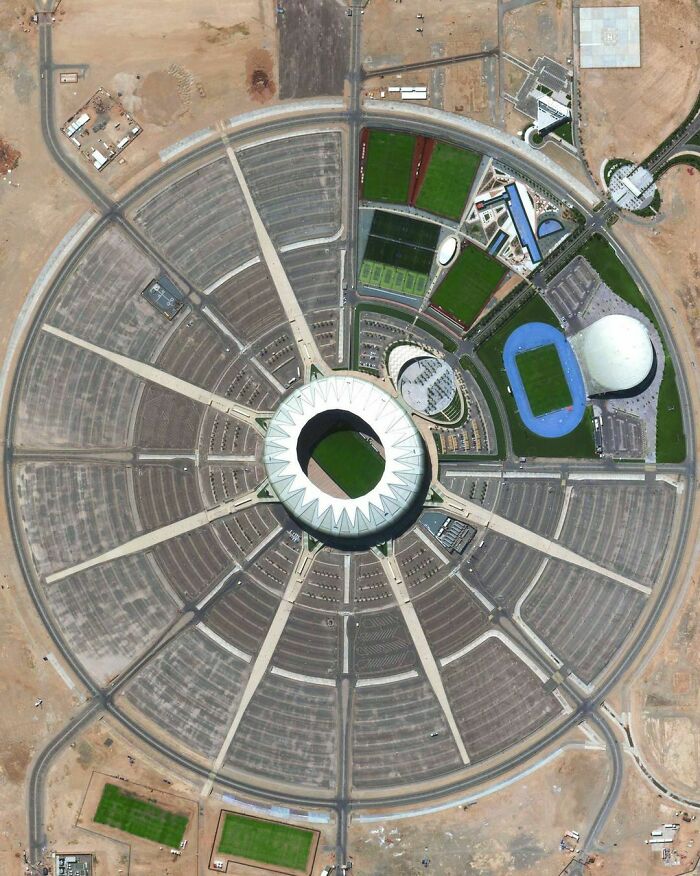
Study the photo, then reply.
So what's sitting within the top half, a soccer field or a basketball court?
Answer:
soccer field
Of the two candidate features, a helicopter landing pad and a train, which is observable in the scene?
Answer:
helicopter landing pad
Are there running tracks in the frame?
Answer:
Yes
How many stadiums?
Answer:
two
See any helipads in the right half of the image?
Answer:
Yes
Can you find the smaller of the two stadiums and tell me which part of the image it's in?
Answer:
right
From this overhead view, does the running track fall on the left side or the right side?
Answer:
right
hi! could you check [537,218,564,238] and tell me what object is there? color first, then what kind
blue swimming pool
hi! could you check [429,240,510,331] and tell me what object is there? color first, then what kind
green soccer field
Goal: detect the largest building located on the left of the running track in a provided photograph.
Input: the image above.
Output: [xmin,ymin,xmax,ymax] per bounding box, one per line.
[390,346,438,390]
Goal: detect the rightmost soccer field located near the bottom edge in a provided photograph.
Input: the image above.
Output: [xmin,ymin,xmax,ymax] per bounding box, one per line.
[211,810,319,874]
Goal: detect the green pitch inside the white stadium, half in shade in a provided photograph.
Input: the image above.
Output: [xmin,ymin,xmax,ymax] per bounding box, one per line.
[306,417,386,498]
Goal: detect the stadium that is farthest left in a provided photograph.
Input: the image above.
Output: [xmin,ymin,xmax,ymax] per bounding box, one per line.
[264,375,427,536]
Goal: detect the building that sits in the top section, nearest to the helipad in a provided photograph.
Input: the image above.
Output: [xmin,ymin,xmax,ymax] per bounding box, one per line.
[538,97,572,133]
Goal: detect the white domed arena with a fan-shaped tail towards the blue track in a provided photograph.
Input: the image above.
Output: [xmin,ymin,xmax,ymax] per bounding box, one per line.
[568,317,658,397]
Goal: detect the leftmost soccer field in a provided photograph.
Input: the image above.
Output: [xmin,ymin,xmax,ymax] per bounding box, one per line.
[86,777,195,855]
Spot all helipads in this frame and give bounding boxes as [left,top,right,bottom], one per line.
[579,7,640,68]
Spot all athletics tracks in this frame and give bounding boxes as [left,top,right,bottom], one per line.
[502,323,586,437]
